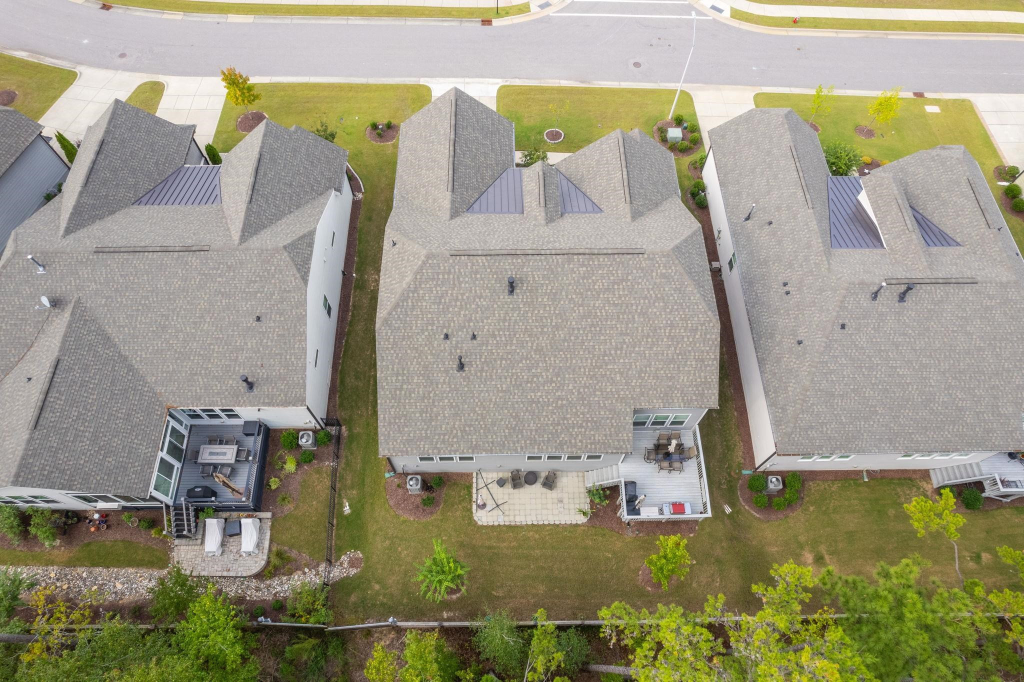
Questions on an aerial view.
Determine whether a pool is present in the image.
No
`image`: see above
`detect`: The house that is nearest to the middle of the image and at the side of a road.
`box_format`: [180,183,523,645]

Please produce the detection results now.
[374,87,714,479]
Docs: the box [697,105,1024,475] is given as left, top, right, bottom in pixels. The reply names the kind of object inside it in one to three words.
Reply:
house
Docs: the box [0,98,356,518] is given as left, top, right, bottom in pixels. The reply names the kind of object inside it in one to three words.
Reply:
house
